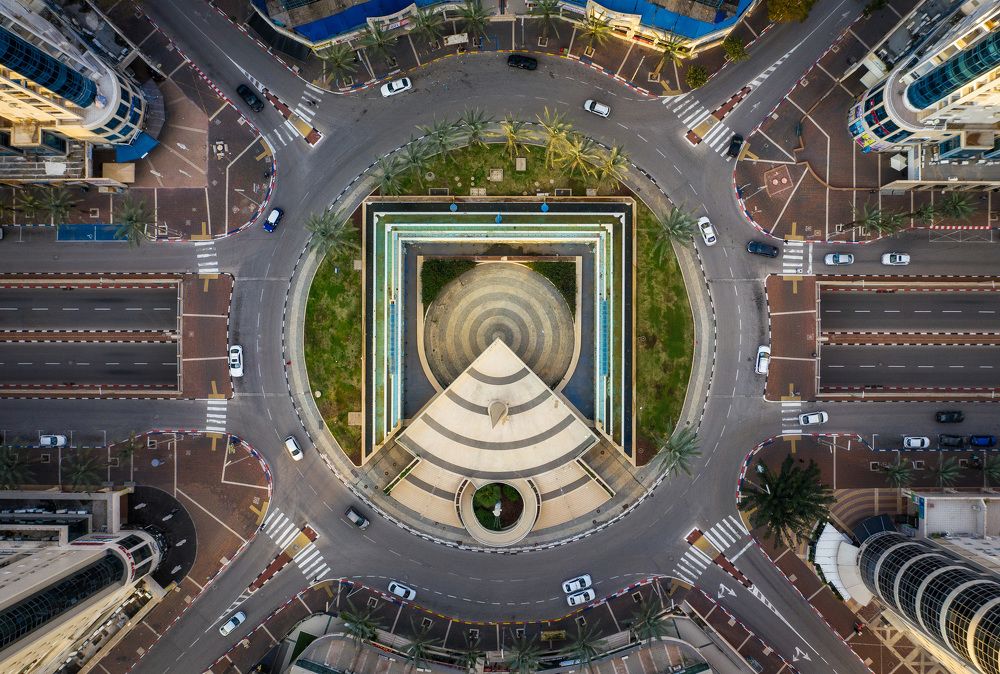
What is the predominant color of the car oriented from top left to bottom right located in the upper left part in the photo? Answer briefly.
black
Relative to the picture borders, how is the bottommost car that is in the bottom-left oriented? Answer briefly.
at an angle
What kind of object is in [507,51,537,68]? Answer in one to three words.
car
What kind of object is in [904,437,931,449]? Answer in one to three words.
vehicle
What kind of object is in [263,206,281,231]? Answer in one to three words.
car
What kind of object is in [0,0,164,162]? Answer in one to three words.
building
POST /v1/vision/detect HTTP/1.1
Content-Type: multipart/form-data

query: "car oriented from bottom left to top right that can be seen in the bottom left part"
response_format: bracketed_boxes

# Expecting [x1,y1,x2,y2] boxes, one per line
[216,612,244,638]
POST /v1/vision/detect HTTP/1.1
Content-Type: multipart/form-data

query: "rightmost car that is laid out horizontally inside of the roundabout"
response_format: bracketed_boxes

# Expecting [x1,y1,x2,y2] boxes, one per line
[748,239,779,256]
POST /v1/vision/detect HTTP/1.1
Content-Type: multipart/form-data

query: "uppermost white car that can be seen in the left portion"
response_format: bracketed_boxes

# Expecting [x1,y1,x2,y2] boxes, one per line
[381,77,411,95]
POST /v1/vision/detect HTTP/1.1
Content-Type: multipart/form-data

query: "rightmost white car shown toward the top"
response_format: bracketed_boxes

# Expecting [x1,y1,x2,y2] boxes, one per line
[882,251,913,265]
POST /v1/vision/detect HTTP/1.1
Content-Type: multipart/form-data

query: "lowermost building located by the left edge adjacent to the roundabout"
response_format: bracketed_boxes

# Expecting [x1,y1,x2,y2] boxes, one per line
[0,525,170,674]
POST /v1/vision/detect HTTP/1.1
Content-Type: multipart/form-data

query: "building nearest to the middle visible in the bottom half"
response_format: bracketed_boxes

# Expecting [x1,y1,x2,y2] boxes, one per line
[382,339,615,547]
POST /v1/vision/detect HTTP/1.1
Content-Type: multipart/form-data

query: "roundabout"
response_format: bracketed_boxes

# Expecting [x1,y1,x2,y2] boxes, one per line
[206,51,793,624]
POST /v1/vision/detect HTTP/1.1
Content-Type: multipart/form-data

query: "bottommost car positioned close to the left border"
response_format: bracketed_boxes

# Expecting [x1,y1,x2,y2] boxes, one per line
[37,435,64,447]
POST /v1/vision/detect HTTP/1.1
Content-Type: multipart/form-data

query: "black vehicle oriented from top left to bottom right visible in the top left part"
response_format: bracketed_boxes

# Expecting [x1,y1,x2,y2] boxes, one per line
[234,82,263,110]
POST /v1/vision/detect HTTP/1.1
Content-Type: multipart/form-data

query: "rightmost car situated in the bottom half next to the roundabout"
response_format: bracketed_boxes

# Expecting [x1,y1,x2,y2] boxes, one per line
[800,411,829,426]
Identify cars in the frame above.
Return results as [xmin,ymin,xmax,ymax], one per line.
[800,411,829,426]
[562,575,592,594]
[938,410,965,422]
[216,612,244,638]
[882,251,913,265]
[698,216,718,245]
[387,582,416,602]
[748,239,779,256]
[282,436,302,462]
[757,347,772,373]
[904,437,931,449]
[228,346,242,376]
[825,252,855,266]
[344,508,368,530]
[565,589,596,608]
[381,77,411,95]
[263,206,281,231]
[727,130,746,160]
[972,436,998,448]
[507,51,537,68]
[234,82,263,110]
[582,97,613,117]
[37,435,64,447]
